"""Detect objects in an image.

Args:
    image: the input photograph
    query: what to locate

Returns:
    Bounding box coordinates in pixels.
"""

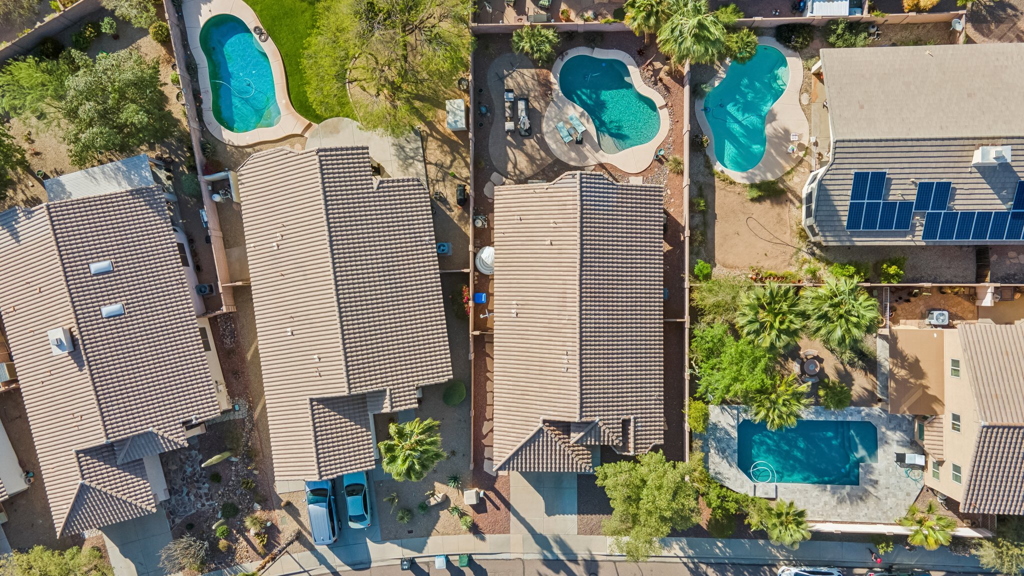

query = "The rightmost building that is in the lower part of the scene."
[885,324,1024,515]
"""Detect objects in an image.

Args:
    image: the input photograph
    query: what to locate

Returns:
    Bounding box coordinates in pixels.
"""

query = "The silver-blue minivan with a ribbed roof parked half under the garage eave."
[310,478,343,543]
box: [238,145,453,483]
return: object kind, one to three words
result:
house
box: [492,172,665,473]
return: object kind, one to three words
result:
house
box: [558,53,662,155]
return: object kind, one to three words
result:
swimming pool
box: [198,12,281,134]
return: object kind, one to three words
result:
swimming pool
